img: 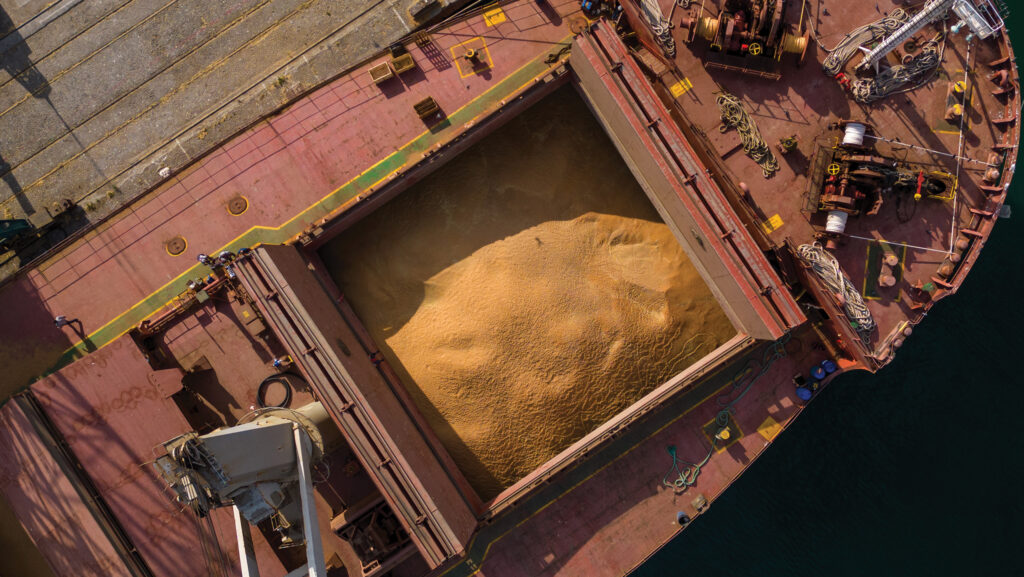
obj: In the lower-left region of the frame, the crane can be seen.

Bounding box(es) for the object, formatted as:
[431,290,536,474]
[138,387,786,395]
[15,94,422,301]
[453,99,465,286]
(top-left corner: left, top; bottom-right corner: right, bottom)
[140,396,345,577]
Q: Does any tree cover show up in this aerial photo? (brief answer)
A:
No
